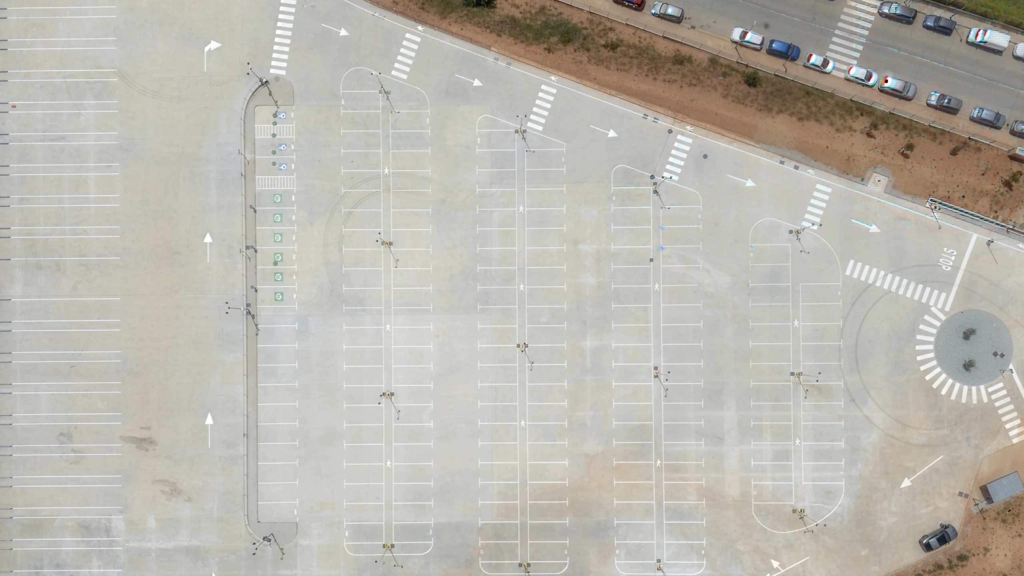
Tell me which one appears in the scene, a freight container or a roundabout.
roundabout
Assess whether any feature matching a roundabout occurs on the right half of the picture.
Yes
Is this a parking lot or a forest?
parking lot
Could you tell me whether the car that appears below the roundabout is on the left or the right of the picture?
right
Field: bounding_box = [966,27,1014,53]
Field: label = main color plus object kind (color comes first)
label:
white vehicle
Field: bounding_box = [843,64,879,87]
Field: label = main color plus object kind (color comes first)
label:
white car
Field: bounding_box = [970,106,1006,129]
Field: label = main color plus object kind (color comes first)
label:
gray car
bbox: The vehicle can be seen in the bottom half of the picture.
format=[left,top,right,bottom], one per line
[917,524,957,551]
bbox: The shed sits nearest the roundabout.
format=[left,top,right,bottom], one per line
[979,471,1024,505]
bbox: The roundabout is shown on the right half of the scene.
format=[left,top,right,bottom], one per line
[933,307,1014,387]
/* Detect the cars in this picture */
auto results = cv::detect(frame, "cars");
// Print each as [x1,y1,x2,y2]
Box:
[765,39,801,61]
[878,0,919,24]
[730,27,765,50]
[614,0,646,10]
[922,13,959,36]
[651,1,686,23]
[917,524,957,551]
[1009,119,1024,137]
[926,92,964,115]
[970,106,1006,129]
[878,76,918,100]
[843,64,879,87]
[802,52,836,74]
[1014,44,1024,60]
